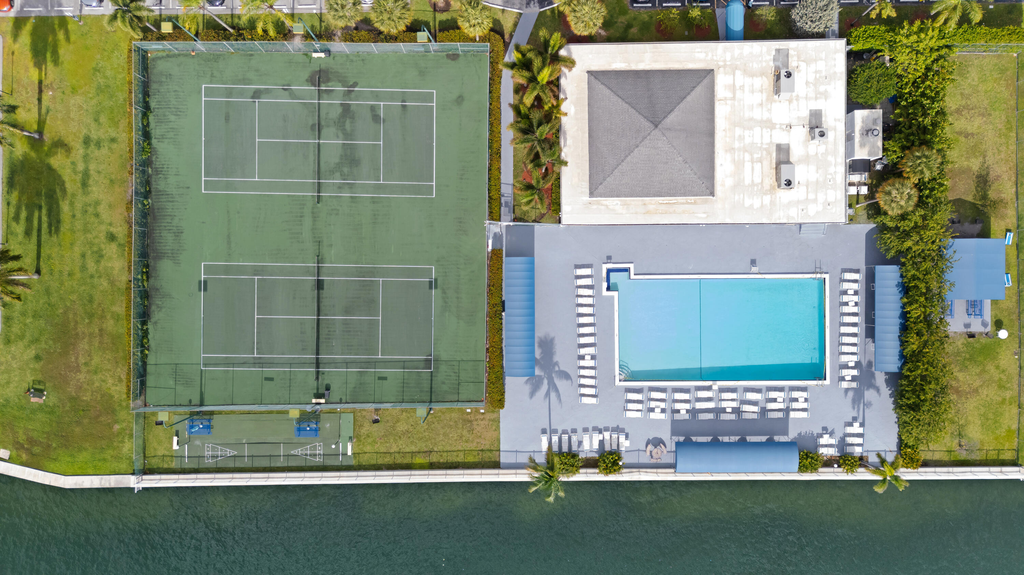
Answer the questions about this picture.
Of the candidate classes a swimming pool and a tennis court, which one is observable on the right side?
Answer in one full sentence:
What appears on the right side is a swimming pool.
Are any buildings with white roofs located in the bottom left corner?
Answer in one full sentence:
No, no building with a white roof is visible in the bottom left corner.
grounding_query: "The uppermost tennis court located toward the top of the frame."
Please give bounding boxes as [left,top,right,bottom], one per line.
[203,85,435,197]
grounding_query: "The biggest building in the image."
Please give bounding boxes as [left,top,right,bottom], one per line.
[560,38,847,225]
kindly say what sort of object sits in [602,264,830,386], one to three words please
swimming pool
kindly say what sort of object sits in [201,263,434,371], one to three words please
tennis court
